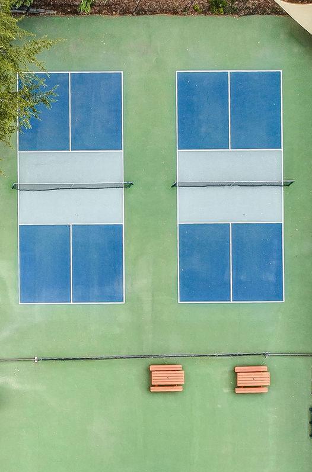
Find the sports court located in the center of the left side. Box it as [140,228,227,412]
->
[18,71,125,304]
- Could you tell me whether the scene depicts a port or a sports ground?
sports ground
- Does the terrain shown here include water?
No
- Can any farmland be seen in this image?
No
